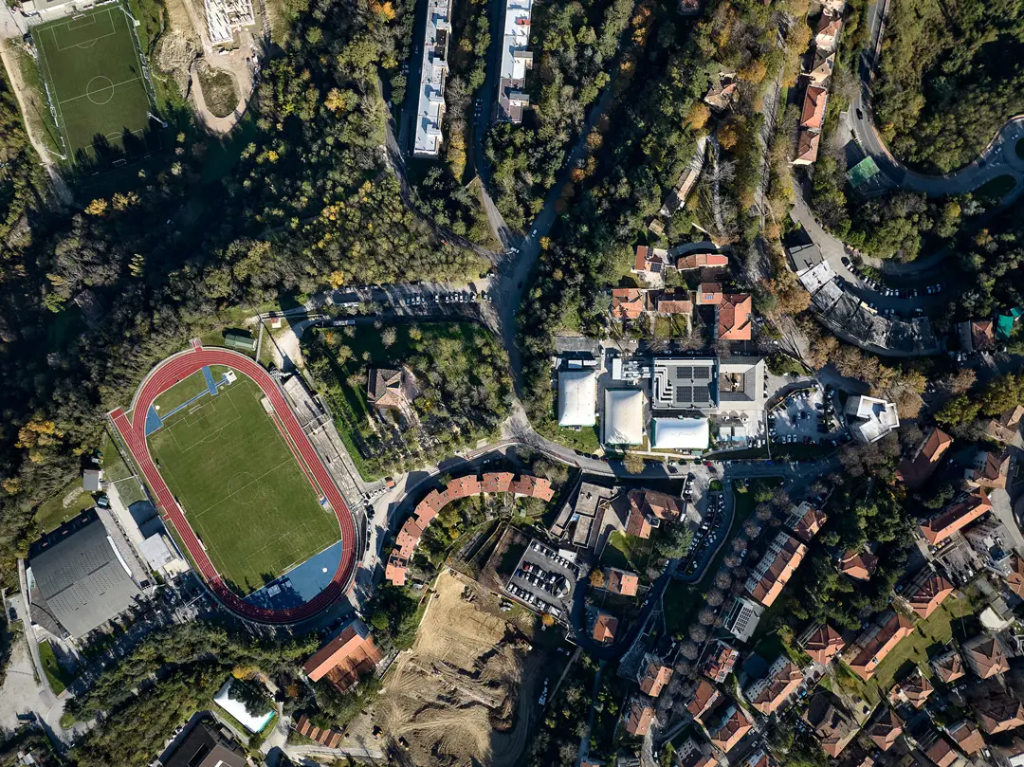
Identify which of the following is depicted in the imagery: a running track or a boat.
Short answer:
running track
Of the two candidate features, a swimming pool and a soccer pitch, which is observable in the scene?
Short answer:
soccer pitch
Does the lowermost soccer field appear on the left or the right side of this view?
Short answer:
left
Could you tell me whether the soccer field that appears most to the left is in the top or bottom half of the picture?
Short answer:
top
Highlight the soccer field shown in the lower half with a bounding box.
[145,366,341,608]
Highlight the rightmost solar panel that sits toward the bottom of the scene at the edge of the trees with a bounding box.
[727,608,761,638]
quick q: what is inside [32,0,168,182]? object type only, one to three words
soccer field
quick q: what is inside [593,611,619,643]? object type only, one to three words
house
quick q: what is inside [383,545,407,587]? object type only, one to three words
house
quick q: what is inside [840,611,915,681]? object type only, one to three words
building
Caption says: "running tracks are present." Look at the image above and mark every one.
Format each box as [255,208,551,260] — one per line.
[110,340,359,627]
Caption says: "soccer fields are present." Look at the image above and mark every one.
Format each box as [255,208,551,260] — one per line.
[32,0,168,182]
[145,366,341,608]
